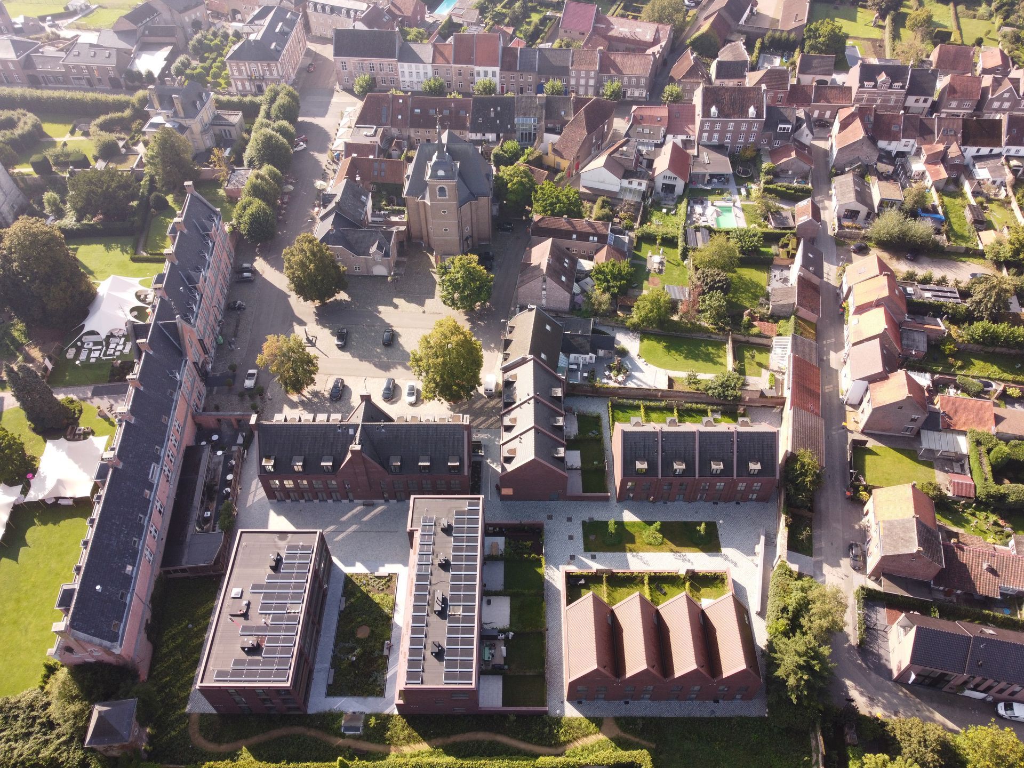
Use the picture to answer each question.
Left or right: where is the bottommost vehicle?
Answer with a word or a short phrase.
right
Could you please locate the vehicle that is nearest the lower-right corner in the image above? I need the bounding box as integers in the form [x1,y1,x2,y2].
[991,699,1024,721]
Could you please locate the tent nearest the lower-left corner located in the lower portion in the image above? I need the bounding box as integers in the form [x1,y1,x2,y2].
[0,484,32,554]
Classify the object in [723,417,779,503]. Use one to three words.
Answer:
house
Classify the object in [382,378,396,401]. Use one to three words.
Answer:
car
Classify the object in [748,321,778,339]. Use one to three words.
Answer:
shed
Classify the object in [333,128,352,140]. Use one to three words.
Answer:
umbrella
